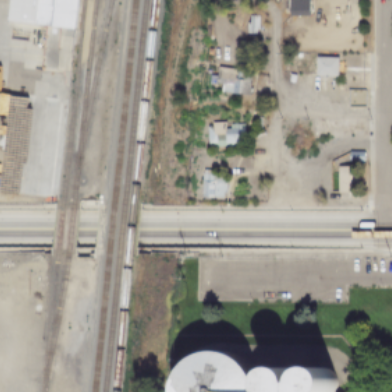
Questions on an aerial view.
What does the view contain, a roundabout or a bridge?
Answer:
bridge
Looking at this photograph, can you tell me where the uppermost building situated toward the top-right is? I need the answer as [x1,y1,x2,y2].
[290,0,312,15]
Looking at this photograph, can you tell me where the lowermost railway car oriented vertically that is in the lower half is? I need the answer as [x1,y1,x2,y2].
[114,347,126,389]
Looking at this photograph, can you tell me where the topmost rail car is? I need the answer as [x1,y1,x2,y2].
[150,0,163,30]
